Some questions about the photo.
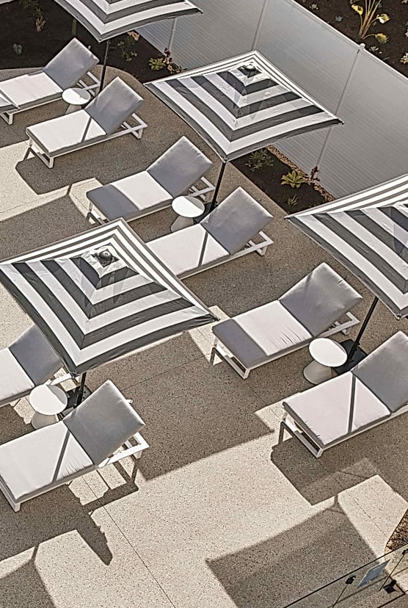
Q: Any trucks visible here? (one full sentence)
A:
No, no truck is visible in the view.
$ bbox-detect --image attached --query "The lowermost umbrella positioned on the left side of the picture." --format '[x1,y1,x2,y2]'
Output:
[0,216,221,418]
